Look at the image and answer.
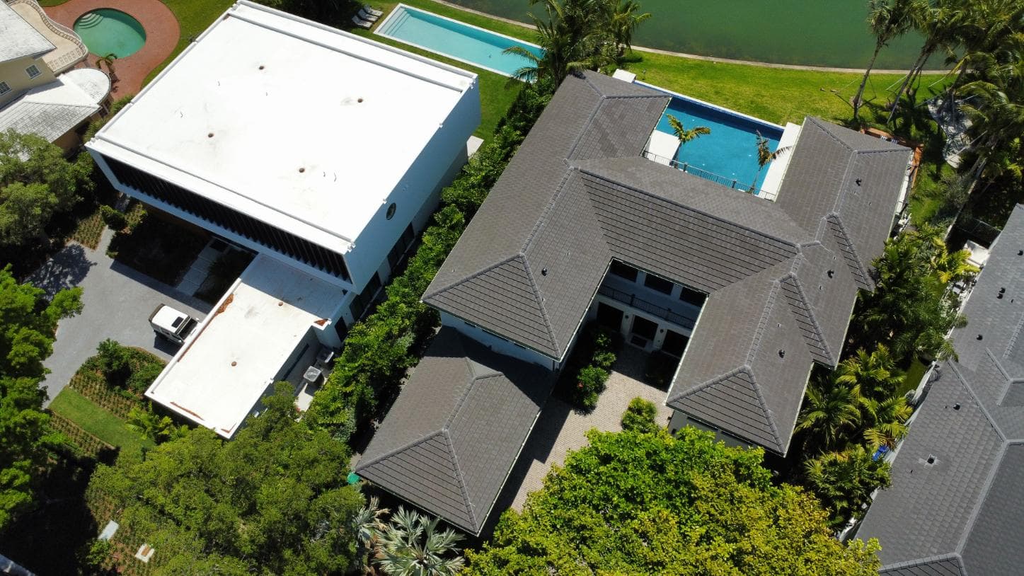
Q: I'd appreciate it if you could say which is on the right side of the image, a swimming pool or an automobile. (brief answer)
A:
swimming pool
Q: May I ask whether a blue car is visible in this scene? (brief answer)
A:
No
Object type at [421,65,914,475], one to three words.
house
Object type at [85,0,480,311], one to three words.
house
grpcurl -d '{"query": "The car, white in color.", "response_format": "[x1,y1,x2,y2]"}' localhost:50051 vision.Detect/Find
[150,305,201,346]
